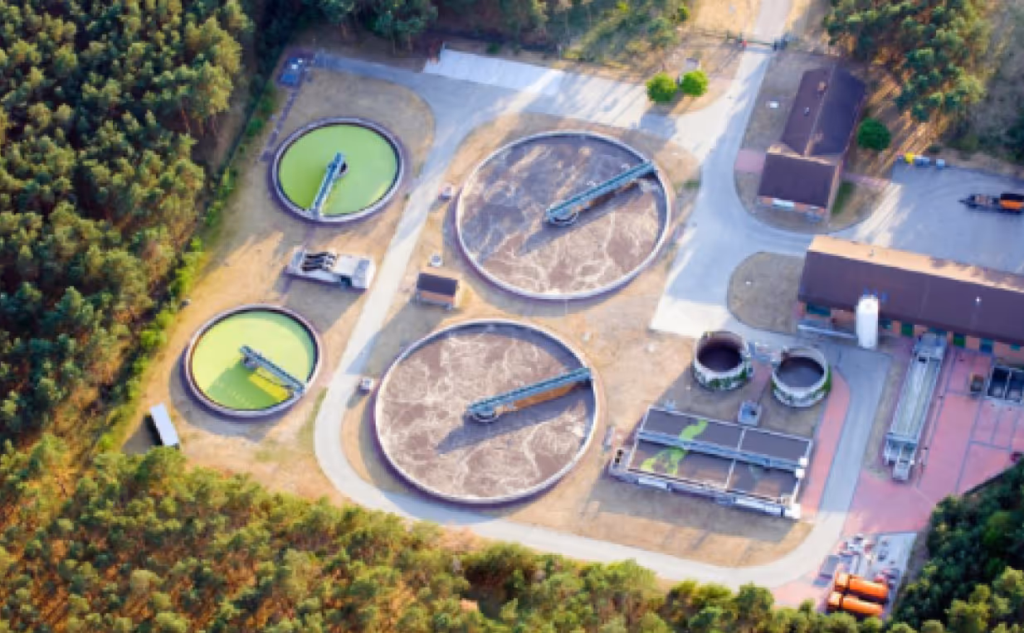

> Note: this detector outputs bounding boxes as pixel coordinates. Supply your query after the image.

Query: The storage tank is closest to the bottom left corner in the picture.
[180,306,329,426]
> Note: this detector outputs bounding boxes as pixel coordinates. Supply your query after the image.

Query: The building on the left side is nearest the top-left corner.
[290,237,376,292]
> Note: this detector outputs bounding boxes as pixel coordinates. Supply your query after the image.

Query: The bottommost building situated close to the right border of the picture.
[794,235,1024,365]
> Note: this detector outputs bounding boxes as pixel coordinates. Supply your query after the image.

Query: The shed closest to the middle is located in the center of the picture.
[417,269,459,308]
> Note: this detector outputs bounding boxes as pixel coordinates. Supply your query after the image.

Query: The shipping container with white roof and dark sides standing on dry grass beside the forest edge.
[149,401,180,457]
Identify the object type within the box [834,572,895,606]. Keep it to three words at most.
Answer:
truck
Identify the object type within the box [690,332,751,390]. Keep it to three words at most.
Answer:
storage tank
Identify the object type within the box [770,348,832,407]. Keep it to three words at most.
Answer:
storage tank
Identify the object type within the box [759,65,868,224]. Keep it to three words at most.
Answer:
building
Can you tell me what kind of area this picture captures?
industrial area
